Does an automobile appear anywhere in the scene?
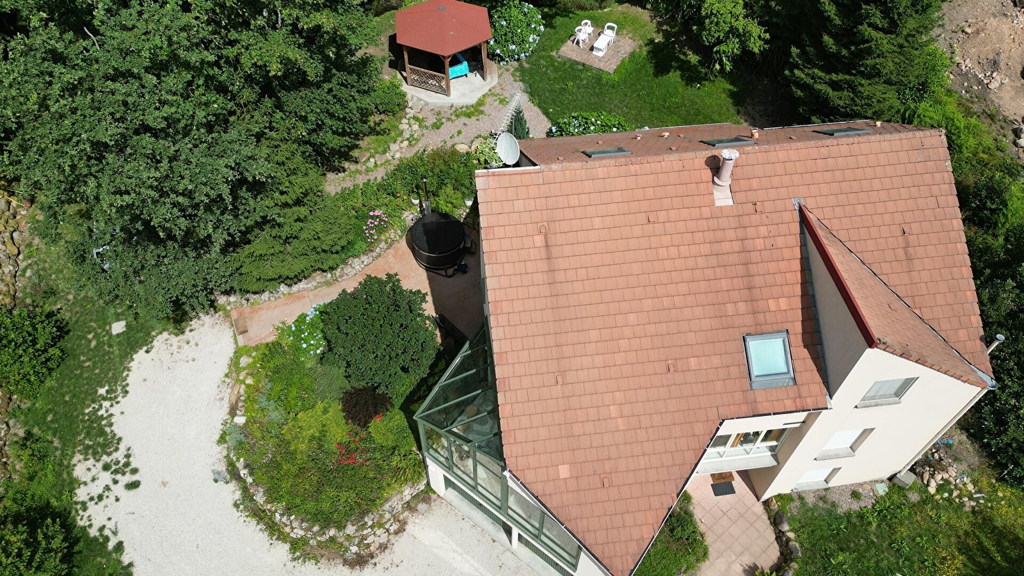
No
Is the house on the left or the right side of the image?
right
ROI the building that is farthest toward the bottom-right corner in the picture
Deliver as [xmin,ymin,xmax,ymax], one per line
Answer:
[412,116,1012,576]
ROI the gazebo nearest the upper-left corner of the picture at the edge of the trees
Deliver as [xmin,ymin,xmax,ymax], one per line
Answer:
[395,0,492,93]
